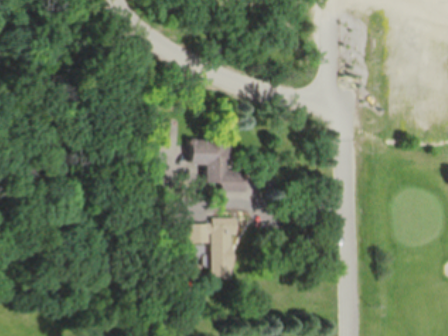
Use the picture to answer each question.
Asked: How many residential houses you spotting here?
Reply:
two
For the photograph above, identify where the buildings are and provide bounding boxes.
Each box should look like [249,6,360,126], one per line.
[192,218,236,278]
[193,138,248,194]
